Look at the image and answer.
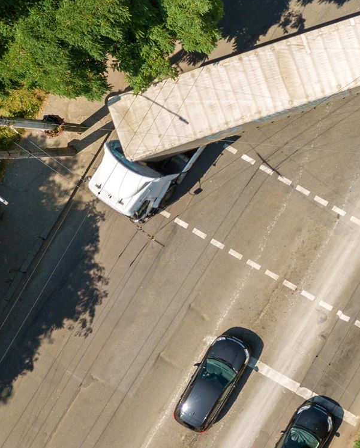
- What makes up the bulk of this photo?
paved ground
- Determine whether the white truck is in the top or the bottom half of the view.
top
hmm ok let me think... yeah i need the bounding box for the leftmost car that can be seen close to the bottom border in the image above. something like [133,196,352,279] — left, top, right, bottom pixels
[176,333,253,432]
